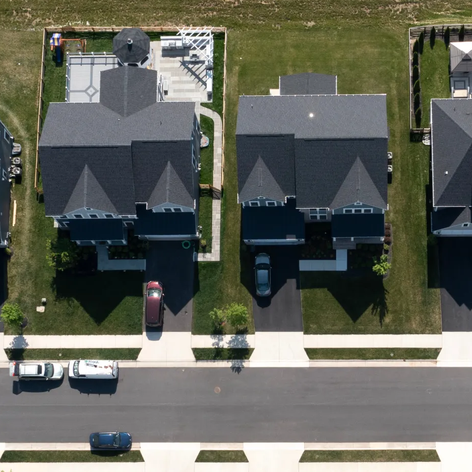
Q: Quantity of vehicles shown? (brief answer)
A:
5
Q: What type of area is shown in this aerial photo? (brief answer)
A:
residential area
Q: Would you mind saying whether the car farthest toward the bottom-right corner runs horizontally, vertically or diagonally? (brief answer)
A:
vertically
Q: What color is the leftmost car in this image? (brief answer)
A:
white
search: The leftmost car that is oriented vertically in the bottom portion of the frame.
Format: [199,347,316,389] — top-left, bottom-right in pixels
[143,282,166,328]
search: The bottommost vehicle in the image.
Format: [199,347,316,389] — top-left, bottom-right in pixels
[89,429,133,451]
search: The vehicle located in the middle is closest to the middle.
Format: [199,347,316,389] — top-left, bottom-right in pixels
[253,254,273,297]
